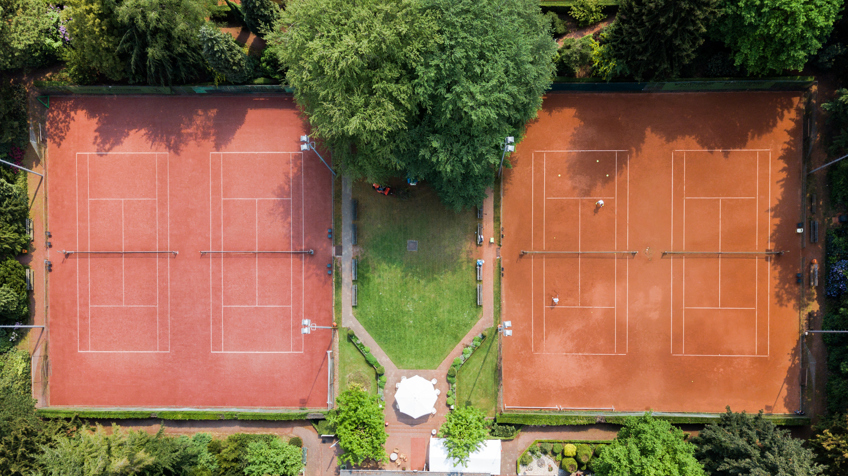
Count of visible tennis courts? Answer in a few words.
four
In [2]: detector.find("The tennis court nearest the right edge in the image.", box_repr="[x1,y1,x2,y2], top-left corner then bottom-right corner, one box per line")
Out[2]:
[650,92,804,414]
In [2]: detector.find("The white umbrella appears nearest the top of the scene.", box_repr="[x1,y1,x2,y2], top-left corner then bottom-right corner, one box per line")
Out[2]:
[394,375,439,421]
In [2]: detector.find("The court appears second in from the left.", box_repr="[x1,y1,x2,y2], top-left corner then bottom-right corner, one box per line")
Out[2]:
[190,97,333,409]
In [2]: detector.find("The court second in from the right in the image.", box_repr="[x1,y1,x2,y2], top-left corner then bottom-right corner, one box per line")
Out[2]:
[502,93,650,411]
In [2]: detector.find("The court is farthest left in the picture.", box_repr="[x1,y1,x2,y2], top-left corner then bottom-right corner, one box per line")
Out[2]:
[48,97,190,409]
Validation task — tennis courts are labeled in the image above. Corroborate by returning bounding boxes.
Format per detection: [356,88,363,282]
[502,93,650,411]
[190,97,333,409]
[48,97,190,409]
[650,92,804,414]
